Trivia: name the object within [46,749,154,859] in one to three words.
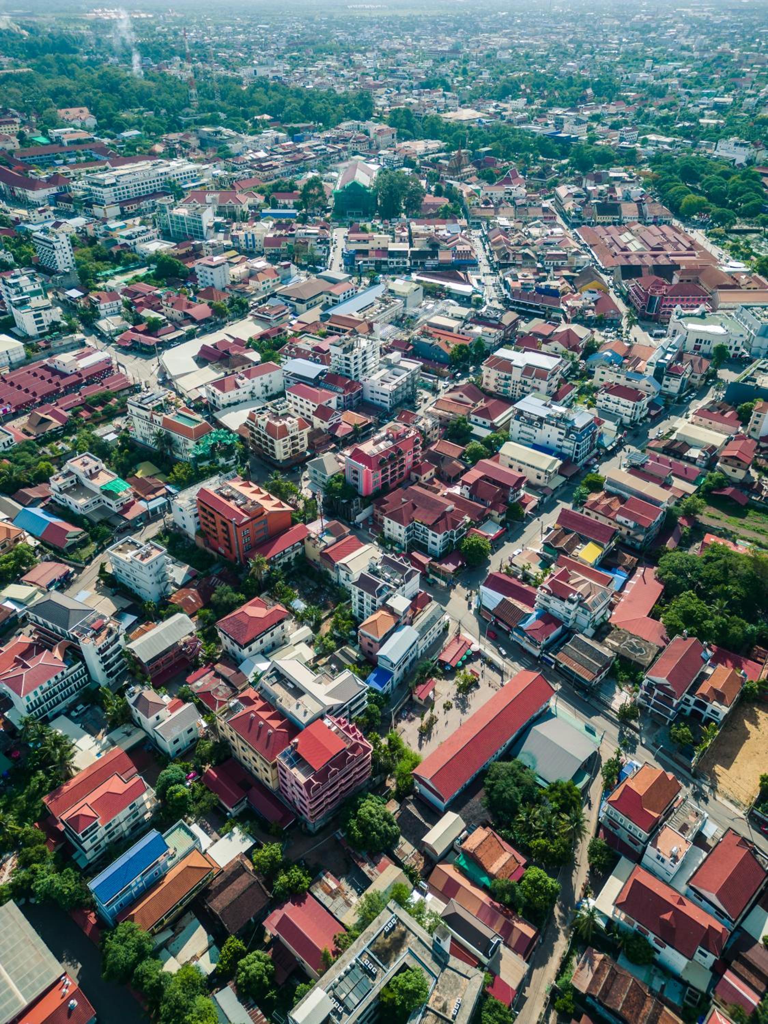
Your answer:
house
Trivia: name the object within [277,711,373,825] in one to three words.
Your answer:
building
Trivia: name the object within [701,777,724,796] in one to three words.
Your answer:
car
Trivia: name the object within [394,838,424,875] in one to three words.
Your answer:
shed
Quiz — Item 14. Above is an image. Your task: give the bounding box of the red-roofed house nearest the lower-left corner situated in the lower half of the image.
[19,976,100,1024]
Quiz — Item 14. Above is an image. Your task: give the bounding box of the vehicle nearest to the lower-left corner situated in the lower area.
[67,701,90,717]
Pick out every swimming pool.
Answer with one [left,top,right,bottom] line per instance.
[174,411,200,424]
